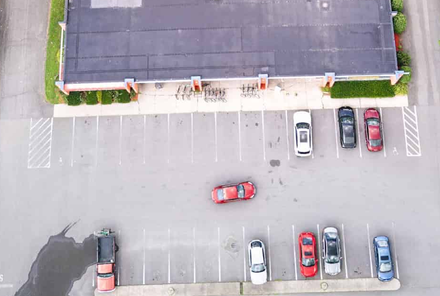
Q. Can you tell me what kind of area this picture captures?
parking lot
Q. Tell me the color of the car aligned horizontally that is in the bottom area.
red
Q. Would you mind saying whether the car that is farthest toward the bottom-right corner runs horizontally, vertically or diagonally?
vertically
